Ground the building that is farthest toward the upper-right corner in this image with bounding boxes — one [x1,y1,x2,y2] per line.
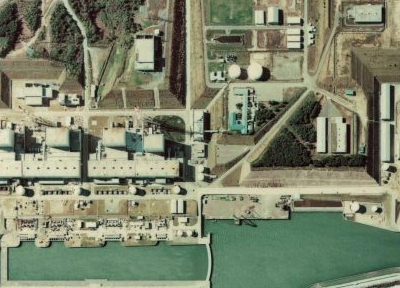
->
[348,6,382,22]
